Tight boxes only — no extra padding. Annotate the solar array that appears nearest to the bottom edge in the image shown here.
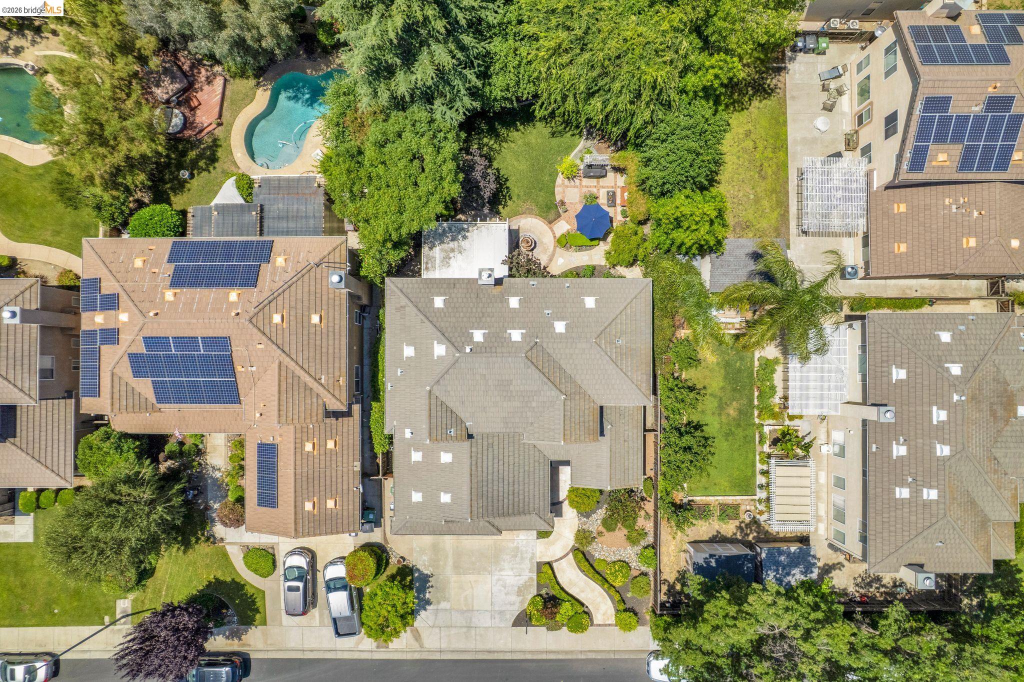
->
[257,443,277,508]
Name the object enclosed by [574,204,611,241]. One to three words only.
umbrella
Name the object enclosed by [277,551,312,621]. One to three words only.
car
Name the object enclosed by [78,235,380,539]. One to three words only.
house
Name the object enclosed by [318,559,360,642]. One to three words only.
truck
